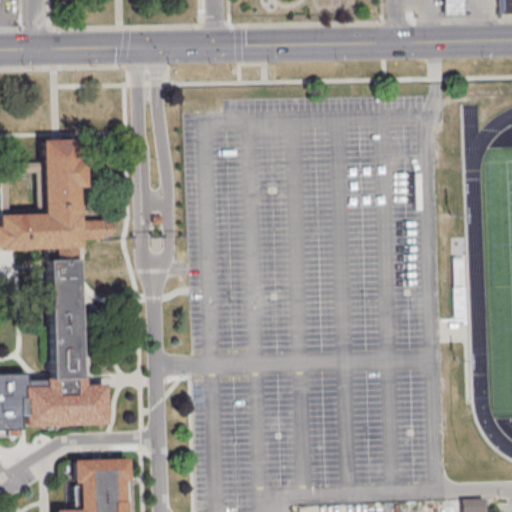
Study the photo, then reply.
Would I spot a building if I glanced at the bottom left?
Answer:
Yes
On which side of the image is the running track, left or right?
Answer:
right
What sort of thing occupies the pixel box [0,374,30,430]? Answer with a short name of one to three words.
building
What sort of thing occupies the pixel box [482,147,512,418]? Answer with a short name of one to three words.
sports field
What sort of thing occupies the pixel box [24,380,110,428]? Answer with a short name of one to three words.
building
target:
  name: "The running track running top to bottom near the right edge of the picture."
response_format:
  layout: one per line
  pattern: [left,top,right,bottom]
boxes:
[459,105,512,464]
